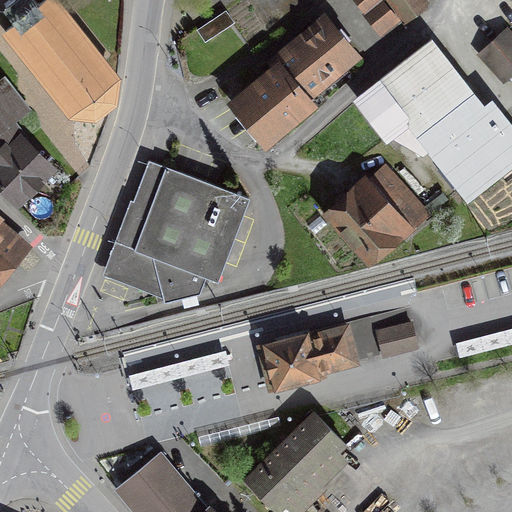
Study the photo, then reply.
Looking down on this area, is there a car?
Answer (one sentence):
Yes, the frame does contain a car.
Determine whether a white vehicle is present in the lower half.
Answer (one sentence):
Yes, in the lower half there is a white vehicle.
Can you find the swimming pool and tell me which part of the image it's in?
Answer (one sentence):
You can find the swimming pool in the left area of the picture.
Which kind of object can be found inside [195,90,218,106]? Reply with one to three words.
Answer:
car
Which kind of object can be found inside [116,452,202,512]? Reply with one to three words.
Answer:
house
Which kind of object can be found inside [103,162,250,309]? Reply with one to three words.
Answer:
building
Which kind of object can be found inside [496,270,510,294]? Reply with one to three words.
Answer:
car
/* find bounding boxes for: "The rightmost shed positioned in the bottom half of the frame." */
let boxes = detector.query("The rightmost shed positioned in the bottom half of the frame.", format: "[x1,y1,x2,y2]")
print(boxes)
[374,320,418,358]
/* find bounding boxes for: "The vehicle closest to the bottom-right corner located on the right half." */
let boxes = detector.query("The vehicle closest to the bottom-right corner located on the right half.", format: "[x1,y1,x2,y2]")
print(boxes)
[423,396,442,426]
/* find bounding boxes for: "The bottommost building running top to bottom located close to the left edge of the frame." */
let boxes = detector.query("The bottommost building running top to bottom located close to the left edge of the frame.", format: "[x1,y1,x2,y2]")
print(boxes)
[0,216,32,285]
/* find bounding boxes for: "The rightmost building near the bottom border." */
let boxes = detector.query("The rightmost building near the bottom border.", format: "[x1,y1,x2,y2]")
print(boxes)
[244,412,349,512]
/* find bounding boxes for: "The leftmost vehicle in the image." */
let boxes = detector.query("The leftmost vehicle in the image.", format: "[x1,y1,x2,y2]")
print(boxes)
[172,448,185,468]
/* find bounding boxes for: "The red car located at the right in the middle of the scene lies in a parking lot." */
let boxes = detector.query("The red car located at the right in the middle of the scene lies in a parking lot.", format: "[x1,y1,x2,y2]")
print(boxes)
[462,283,475,308]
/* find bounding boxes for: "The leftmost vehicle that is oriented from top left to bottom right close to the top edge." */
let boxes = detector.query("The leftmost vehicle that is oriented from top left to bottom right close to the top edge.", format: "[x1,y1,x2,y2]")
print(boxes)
[473,13,494,38]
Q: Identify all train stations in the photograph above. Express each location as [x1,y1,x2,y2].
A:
[258,324,360,394]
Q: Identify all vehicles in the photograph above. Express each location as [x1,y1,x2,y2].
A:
[496,270,510,294]
[360,156,385,170]
[473,13,494,38]
[496,0,512,26]
[423,396,442,426]
[172,448,185,468]
[195,90,218,106]
[230,120,245,133]
[462,283,475,308]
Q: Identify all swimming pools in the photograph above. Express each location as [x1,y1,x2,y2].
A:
[30,196,53,220]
